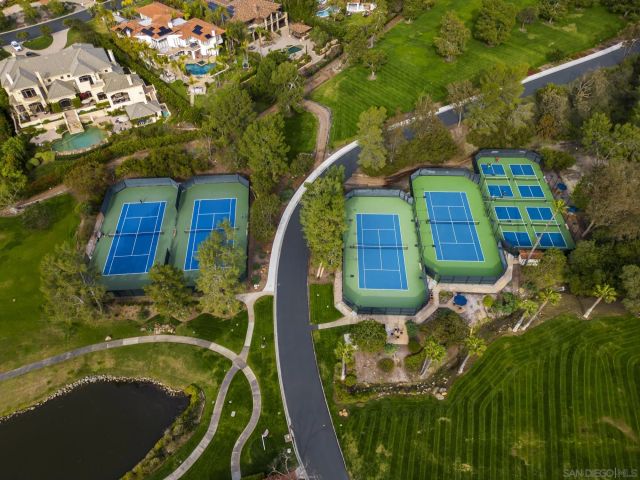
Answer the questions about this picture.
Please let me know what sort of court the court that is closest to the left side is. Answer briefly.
tennis court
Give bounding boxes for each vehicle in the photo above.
[24,50,38,56]
[10,42,21,50]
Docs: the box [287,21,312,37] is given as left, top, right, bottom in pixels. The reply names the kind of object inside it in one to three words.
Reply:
gazebo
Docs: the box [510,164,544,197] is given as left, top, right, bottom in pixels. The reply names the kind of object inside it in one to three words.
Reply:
sports court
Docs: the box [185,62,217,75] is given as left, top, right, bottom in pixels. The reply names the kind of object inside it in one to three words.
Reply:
swimming pool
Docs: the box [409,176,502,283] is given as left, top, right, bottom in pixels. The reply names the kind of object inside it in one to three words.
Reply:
tennis court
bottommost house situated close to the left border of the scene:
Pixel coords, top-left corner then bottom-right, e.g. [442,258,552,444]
[0,38,162,126]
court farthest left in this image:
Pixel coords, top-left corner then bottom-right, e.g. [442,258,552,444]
[89,186,179,298]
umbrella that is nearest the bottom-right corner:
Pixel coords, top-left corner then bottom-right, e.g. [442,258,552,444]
[452,291,468,304]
